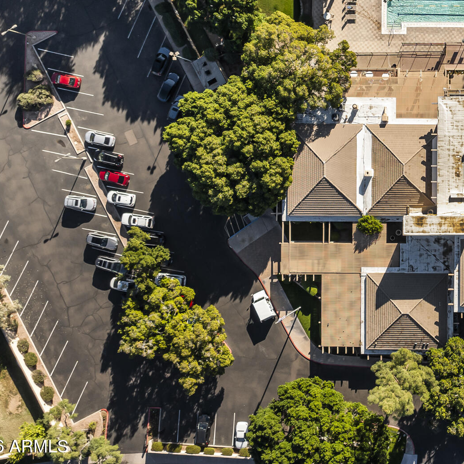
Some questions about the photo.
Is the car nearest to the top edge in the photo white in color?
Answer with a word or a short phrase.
No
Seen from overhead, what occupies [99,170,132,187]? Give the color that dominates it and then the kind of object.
red car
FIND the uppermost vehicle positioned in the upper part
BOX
[148,46,173,77]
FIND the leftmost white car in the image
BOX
[64,194,98,212]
